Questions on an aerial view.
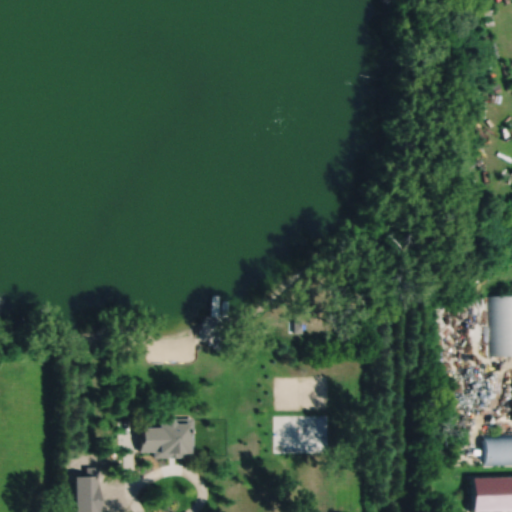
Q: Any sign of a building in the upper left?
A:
No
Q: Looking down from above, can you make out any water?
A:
Yes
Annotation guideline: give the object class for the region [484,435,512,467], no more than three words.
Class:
building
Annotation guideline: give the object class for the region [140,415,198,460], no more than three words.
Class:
house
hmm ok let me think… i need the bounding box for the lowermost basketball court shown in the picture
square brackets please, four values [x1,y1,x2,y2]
[272,415,327,455]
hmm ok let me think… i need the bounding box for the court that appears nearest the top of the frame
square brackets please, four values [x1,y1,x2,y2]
[273,377,328,412]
